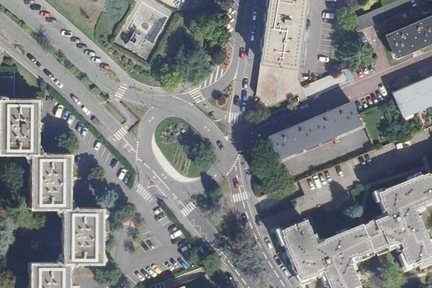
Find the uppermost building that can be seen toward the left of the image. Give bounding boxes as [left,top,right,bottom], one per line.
[114,0,174,62]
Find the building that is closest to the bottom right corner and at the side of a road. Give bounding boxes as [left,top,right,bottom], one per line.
[280,169,432,288]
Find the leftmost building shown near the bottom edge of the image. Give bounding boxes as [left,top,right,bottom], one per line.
[26,262,76,288]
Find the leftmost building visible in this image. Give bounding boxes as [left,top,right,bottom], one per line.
[0,98,44,158]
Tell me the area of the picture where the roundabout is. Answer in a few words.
center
